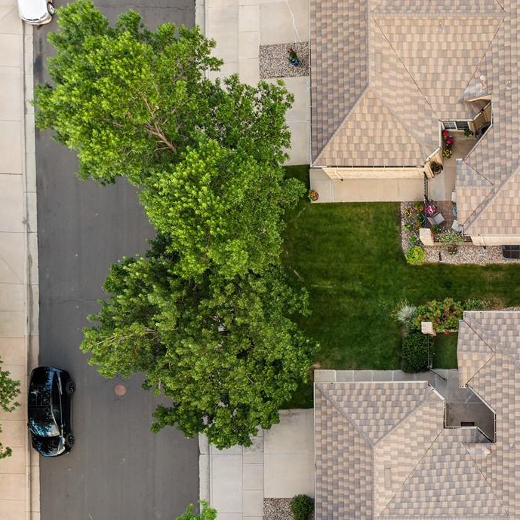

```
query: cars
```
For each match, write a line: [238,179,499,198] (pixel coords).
[9,0,54,18]
[24,368,77,458]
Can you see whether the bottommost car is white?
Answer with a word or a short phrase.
No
